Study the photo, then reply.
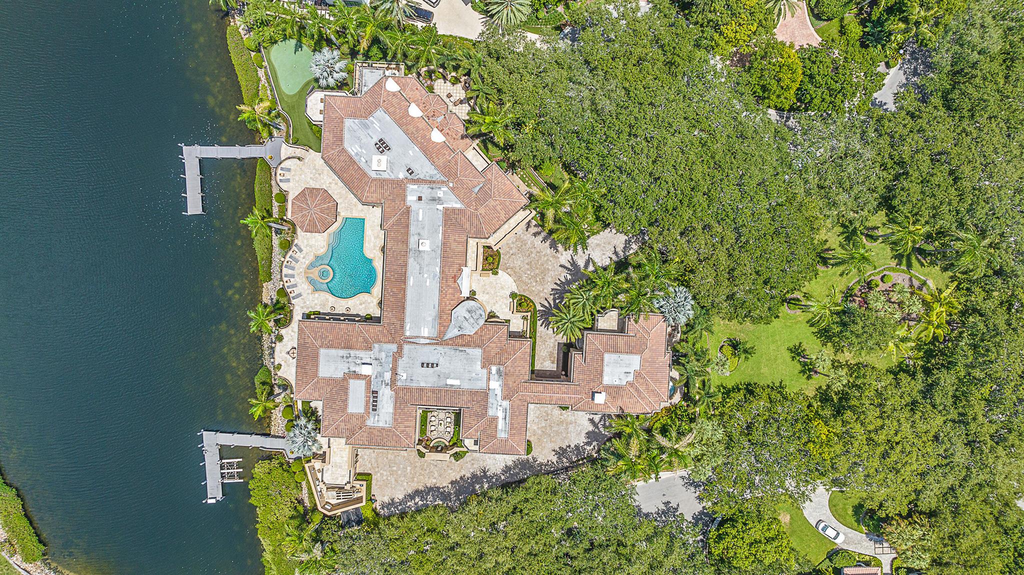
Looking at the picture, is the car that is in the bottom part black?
No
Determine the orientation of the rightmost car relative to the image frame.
on a diagonal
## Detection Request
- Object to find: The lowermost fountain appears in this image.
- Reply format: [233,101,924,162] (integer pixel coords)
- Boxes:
[430,437,449,452]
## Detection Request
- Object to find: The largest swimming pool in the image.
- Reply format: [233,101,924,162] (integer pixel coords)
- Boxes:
[301,214,381,302]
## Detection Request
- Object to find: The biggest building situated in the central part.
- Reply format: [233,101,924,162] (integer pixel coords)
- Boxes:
[294,61,672,456]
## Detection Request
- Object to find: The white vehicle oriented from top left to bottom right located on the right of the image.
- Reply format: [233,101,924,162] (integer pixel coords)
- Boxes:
[815,518,848,547]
